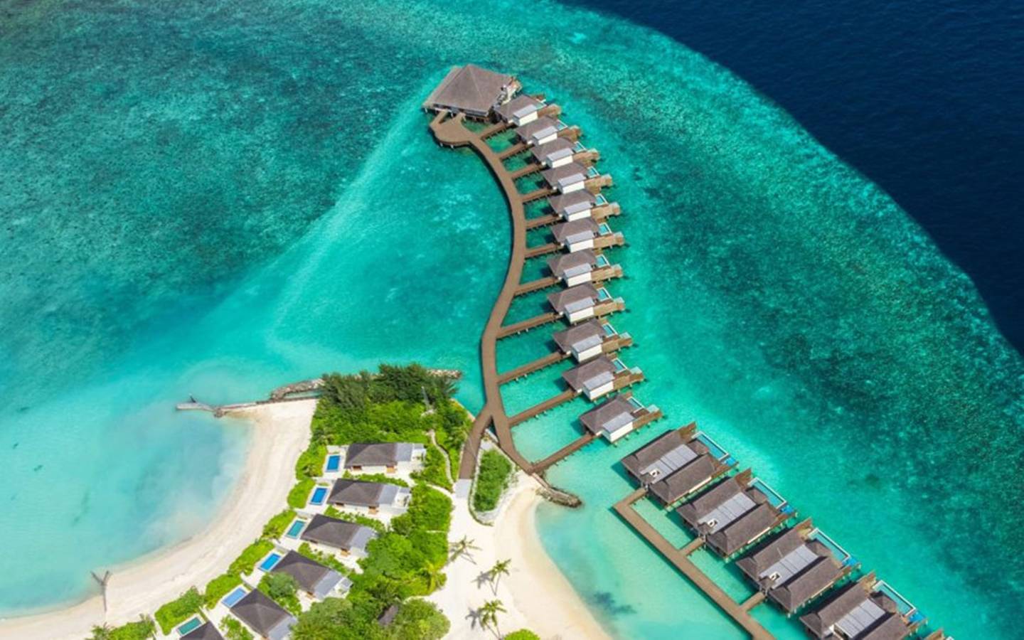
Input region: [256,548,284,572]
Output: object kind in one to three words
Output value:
swimming pool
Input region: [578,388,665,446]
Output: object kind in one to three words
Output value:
house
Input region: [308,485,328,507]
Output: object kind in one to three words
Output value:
swimming pool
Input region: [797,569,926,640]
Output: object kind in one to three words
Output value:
house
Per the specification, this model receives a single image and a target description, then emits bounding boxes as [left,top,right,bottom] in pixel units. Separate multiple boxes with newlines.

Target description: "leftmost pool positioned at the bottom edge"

[172,614,202,638]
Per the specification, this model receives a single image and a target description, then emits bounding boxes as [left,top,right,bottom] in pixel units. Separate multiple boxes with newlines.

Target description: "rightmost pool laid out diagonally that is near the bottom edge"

[872,580,917,617]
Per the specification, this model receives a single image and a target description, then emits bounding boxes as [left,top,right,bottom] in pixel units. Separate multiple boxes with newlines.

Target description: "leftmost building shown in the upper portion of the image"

[422,69,523,127]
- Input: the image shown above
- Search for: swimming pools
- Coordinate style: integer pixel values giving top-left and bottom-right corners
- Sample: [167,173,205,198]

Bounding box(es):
[172,614,202,638]
[324,452,342,472]
[572,140,586,153]
[610,358,628,375]
[600,322,618,338]
[220,584,250,609]
[555,118,570,131]
[625,396,644,411]
[808,528,851,563]
[594,286,611,302]
[256,548,284,572]
[585,165,599,178]
[872,580,917,617]
[747,477,788,511]
[594,253,610,268]
[691,431,731,463]
[536,97,550,110]
[283,517,307,541]
[595,221,611,235]
[592,193,607,207]
[308,485,328,507]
